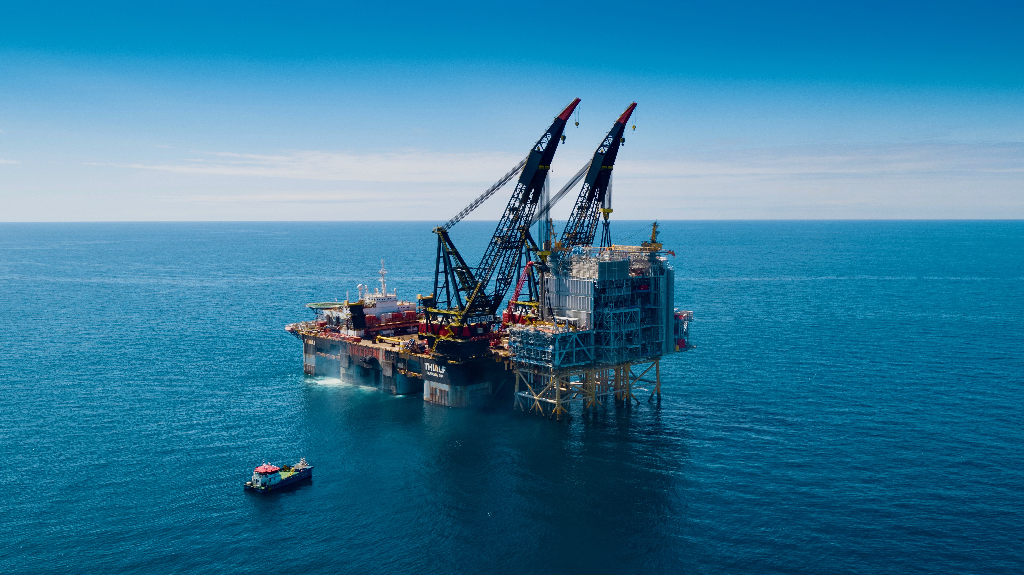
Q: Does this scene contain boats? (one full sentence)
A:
Yes, you can see a boat in this photo.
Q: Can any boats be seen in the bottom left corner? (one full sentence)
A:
Yes, a boat can be seen in the bottom left corner.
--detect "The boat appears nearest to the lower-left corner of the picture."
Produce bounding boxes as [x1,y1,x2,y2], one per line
[245,454,312,493]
